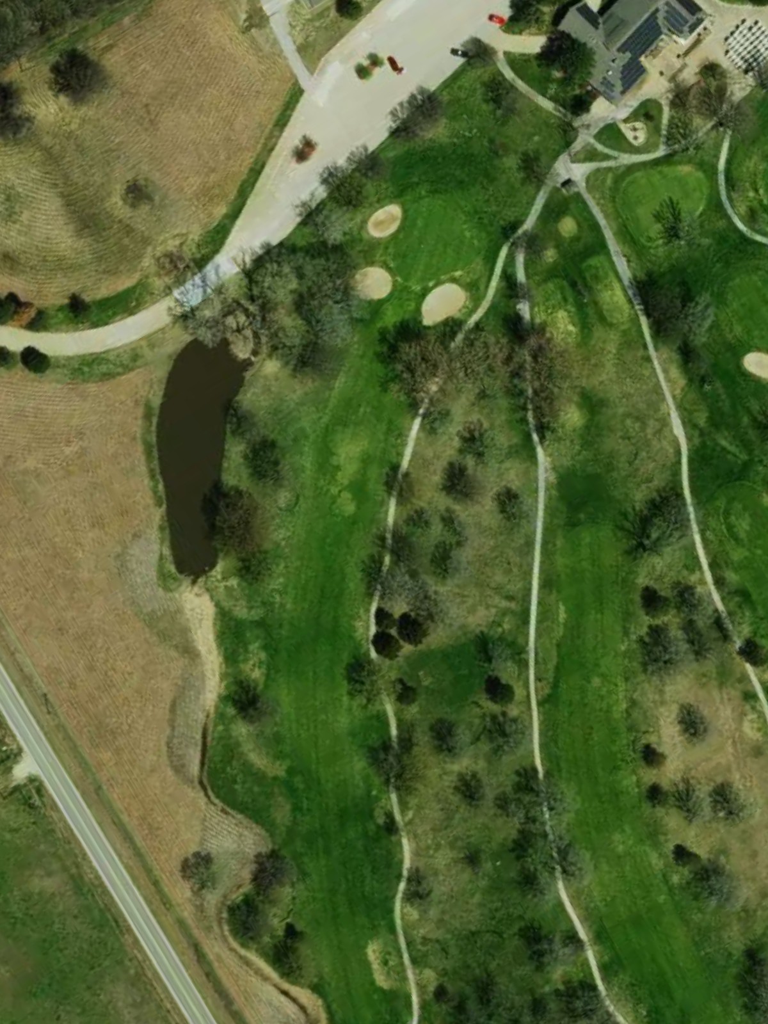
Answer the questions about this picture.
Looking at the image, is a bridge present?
Yes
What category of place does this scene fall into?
golf course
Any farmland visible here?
Yes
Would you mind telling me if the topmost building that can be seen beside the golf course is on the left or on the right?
right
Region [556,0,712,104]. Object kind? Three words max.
building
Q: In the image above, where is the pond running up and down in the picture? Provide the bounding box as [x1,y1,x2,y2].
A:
[157,336,253,576]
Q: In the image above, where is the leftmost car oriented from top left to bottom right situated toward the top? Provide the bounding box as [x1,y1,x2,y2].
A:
[387,55,400,71]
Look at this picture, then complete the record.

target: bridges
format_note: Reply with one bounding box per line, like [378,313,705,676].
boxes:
[176,256,232,309]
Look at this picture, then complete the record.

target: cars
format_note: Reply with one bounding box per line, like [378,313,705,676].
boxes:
[387,55,400,71]
[450,47,467,57]
[488,13,506,24]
